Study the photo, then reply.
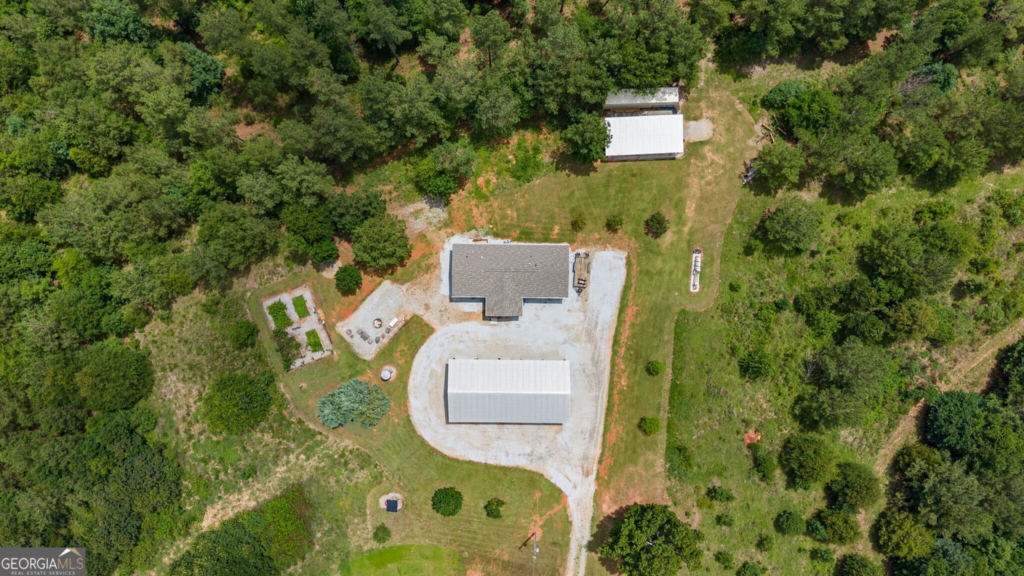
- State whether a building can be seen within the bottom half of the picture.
Yes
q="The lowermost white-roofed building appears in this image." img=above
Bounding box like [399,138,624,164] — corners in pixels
[447,356,572,425]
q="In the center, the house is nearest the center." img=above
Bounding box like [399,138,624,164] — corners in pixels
[451,243,570,323]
